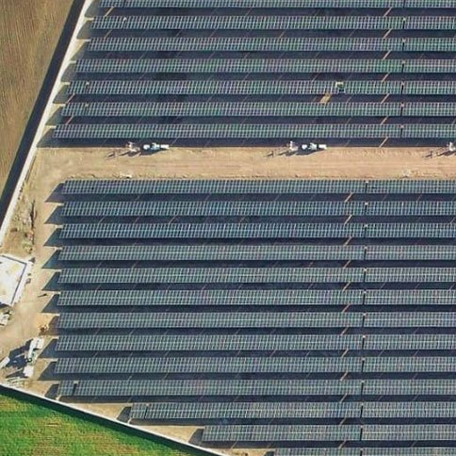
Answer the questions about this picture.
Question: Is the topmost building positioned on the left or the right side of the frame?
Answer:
left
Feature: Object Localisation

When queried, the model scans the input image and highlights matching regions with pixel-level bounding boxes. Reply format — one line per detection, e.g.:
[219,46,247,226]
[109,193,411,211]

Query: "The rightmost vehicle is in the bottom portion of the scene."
[24,336,41,363]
